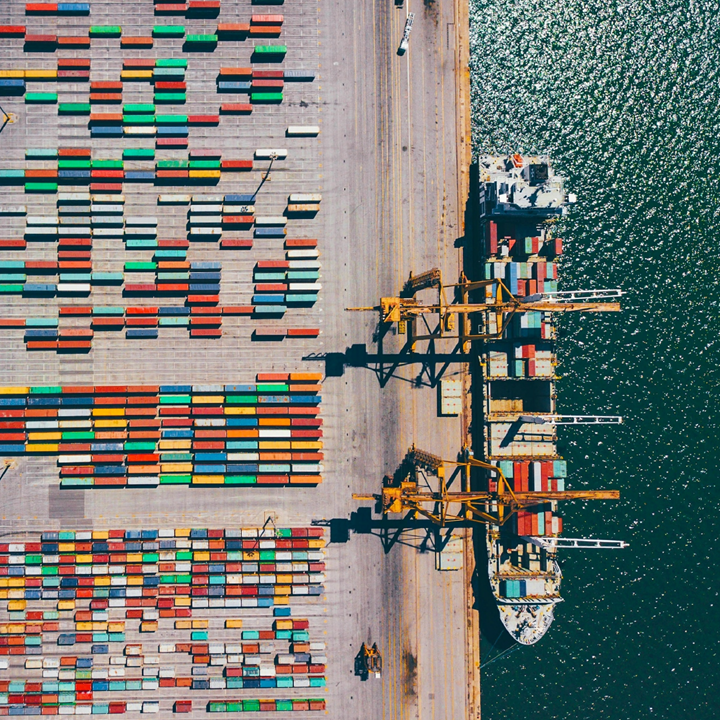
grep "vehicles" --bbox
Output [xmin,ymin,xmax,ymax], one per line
[360,641,381,679]
[397,13,415,57]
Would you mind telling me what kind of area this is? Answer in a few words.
port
